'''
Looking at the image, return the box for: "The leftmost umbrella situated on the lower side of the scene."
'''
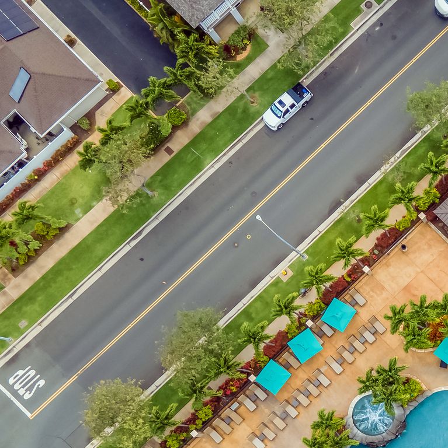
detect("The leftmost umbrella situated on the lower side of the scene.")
[255,359,292,395]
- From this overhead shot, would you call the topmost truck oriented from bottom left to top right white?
Yes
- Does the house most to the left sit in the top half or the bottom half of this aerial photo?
top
